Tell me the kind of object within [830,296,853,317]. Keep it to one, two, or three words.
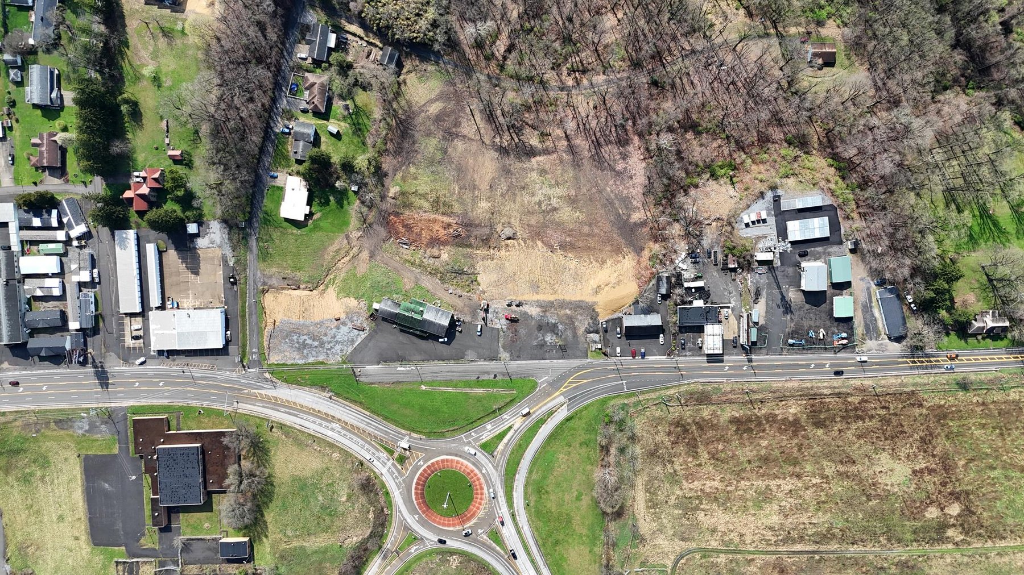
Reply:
shed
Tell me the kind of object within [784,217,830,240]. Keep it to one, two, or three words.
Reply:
building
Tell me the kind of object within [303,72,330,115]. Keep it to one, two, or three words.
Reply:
house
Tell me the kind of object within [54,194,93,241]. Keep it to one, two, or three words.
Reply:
house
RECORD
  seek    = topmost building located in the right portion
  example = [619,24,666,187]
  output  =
[805,43,838,67]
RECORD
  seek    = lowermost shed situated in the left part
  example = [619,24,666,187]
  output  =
[220,538,252,558]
